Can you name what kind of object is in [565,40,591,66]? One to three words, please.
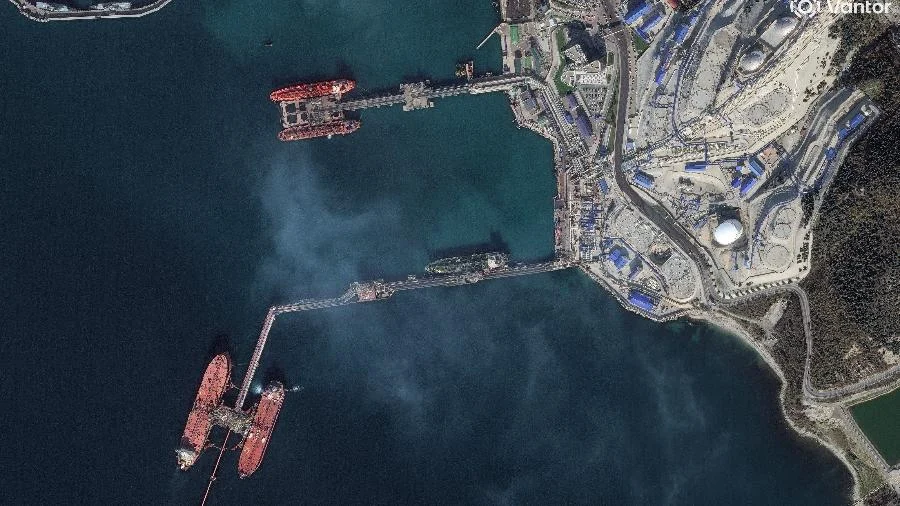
building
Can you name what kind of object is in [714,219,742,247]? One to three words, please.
storage tank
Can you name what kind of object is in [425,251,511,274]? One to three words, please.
ship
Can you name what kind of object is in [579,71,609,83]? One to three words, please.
building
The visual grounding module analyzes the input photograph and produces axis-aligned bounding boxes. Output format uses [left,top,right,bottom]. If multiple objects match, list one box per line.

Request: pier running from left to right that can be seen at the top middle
[279,72,535,130]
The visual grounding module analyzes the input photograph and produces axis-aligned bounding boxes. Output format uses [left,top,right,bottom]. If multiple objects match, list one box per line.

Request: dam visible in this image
[837,406,893,474]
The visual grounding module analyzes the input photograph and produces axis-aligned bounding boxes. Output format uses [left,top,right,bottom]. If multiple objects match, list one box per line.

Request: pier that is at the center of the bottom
[203,260,580,506]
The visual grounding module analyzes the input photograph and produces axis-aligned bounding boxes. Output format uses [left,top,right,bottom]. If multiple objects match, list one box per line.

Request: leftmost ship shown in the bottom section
[177,353,227,471]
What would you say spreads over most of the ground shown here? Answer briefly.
water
